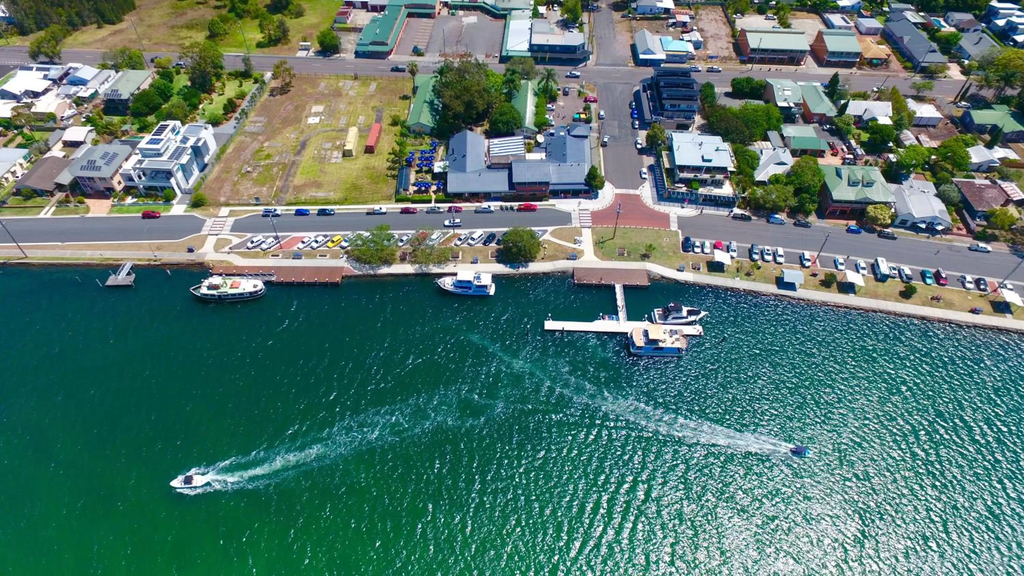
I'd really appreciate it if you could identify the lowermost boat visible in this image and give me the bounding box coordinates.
[168,473,204,486]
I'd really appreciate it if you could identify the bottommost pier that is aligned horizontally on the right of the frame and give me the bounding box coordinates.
[545,313,703,337]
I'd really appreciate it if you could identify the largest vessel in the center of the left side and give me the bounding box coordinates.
[182,272,267,299]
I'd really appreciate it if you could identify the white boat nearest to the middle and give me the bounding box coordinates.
[433,266,496,295]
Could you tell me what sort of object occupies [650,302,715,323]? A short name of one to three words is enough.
boat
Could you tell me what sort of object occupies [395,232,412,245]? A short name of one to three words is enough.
vehicle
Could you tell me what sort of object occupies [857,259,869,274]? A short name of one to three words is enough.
vehicle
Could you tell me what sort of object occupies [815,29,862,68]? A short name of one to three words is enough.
building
